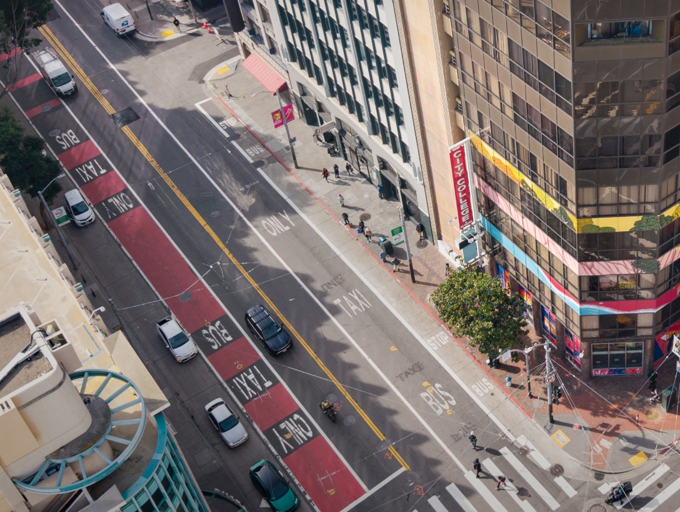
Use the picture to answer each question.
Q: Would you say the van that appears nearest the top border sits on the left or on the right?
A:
left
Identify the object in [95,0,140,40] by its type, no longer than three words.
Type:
van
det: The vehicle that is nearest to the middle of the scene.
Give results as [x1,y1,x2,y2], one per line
[244,306,297,359]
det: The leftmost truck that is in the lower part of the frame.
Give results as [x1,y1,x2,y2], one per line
[152,314,204,368]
